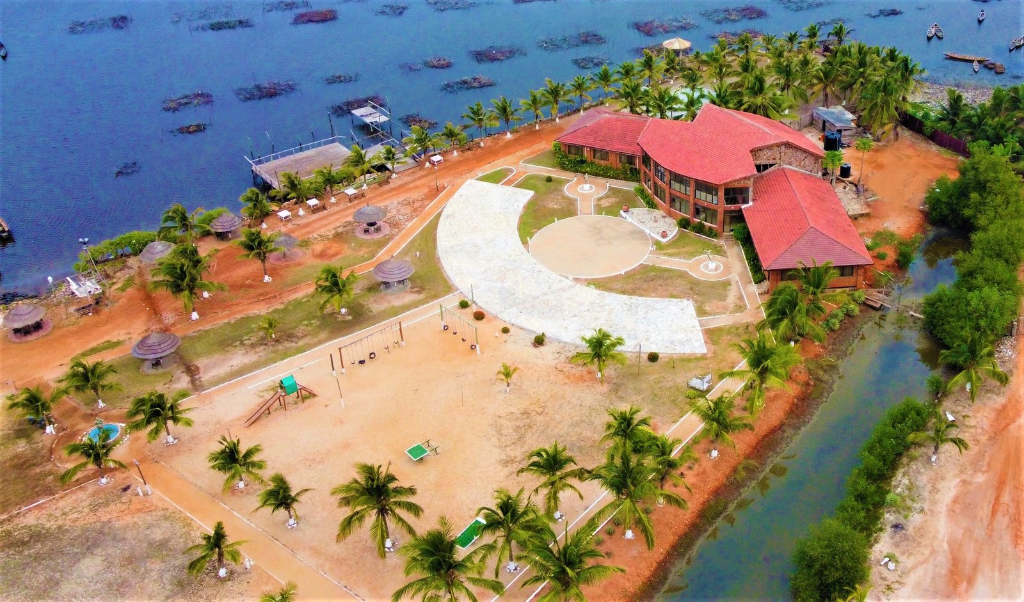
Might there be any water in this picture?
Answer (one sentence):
Yes, some water is visible.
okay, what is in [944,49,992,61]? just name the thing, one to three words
boat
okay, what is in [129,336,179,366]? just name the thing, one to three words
umbrella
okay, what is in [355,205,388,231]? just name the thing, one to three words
umbrella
